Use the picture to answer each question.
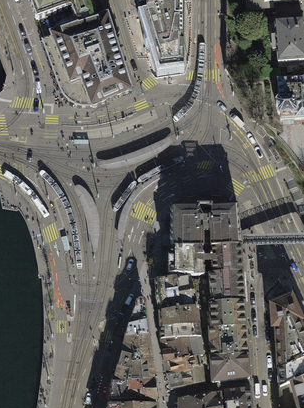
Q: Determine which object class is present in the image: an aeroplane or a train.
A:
train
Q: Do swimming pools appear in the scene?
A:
No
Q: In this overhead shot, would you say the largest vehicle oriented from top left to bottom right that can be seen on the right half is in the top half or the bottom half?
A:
top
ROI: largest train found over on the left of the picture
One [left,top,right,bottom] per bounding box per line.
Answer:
[40,168,82,268]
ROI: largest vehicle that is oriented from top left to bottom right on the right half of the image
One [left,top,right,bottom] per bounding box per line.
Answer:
[230,111,249,133]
